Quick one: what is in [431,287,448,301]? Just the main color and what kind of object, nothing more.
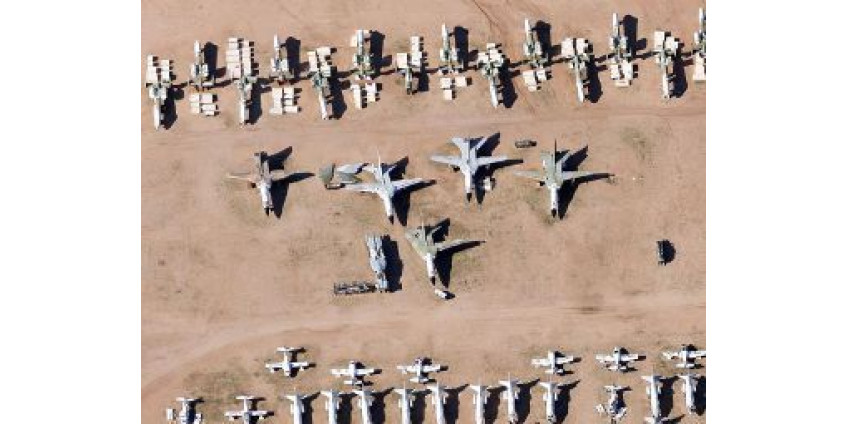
white vehicle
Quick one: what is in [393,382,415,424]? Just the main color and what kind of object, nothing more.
white airplane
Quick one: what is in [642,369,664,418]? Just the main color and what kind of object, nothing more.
white airplane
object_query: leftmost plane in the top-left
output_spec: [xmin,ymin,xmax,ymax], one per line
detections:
[143,74,167,130]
